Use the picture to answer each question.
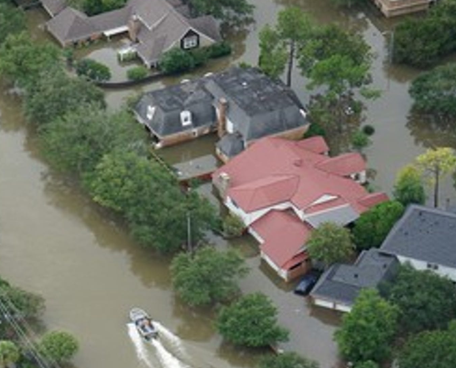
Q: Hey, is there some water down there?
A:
Yes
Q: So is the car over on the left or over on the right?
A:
right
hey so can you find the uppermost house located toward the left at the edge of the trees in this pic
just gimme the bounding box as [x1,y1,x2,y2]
[42,0,224,74]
